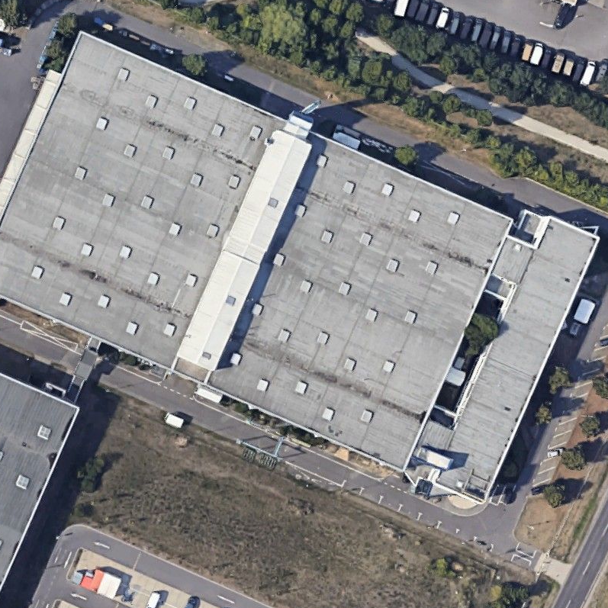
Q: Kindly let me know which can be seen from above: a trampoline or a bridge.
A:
bridge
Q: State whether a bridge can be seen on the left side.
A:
Yes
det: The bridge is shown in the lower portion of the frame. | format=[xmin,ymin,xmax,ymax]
[67,338,100,403]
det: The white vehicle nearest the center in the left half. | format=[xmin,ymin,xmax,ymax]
[163,414,186,428]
